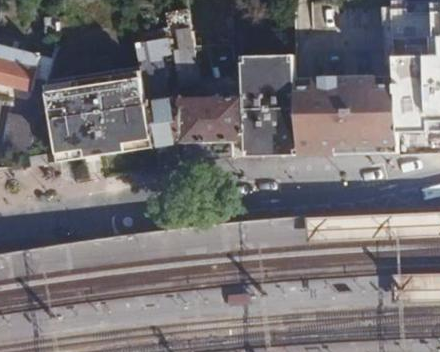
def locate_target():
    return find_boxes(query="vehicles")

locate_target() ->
[399,160,422,172]
[324,8,334,29]
[420,184,440,201]
[256,181,278,192]
[234,184,255,194]
[362,168,383,179]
